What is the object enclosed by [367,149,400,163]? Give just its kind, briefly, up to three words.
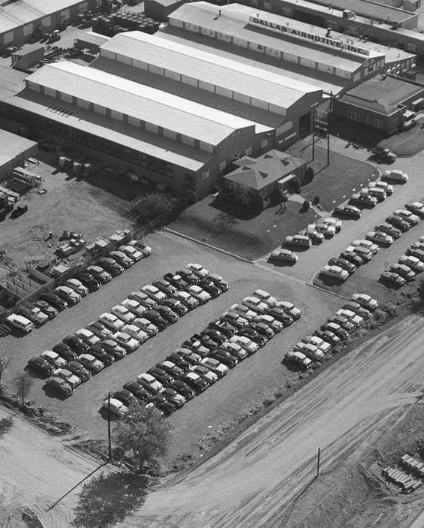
car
